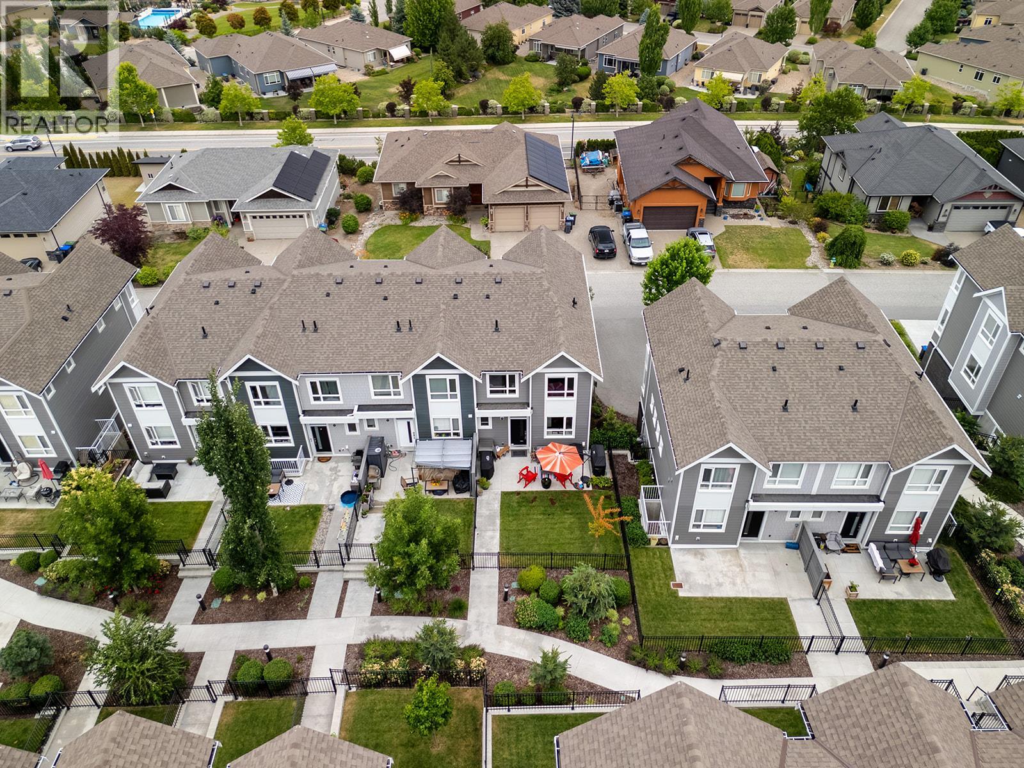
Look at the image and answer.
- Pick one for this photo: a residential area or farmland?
residential area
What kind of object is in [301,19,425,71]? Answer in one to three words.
house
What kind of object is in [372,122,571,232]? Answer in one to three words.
house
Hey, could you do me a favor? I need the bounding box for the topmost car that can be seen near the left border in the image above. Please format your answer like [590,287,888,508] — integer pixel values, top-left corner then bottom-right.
[0,130,45,151]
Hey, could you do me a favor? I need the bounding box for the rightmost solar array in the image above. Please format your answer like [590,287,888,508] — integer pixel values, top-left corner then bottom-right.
[527,126,565,184]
